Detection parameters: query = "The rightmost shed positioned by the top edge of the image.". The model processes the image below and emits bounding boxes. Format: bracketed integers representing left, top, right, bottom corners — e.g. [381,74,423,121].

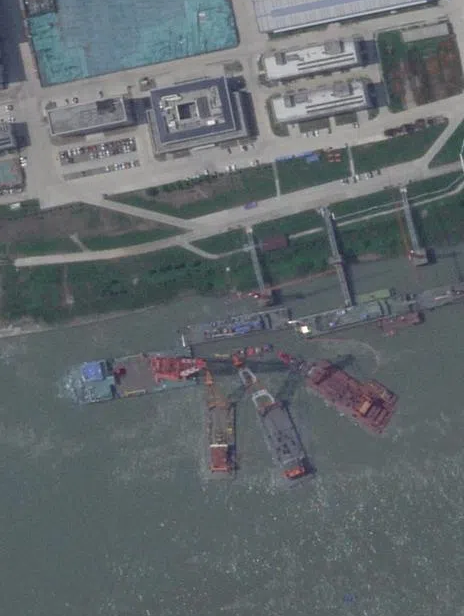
[401,22,450,42]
